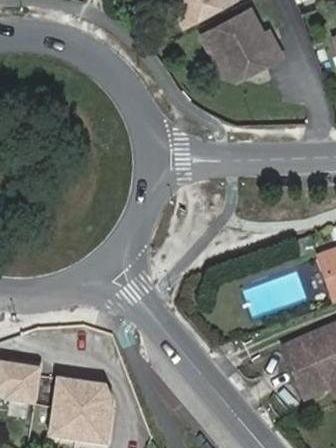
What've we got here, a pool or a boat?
pool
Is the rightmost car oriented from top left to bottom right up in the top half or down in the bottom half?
bottom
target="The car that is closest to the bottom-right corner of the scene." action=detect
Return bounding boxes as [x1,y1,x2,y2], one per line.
[272,373,292,386]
